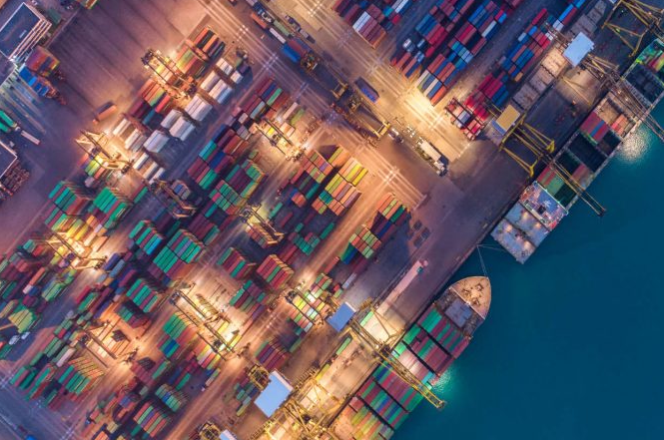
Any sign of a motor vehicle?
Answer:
Yes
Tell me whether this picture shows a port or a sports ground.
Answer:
port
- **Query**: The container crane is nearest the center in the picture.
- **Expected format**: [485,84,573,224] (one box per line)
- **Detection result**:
[244,208,293,246]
